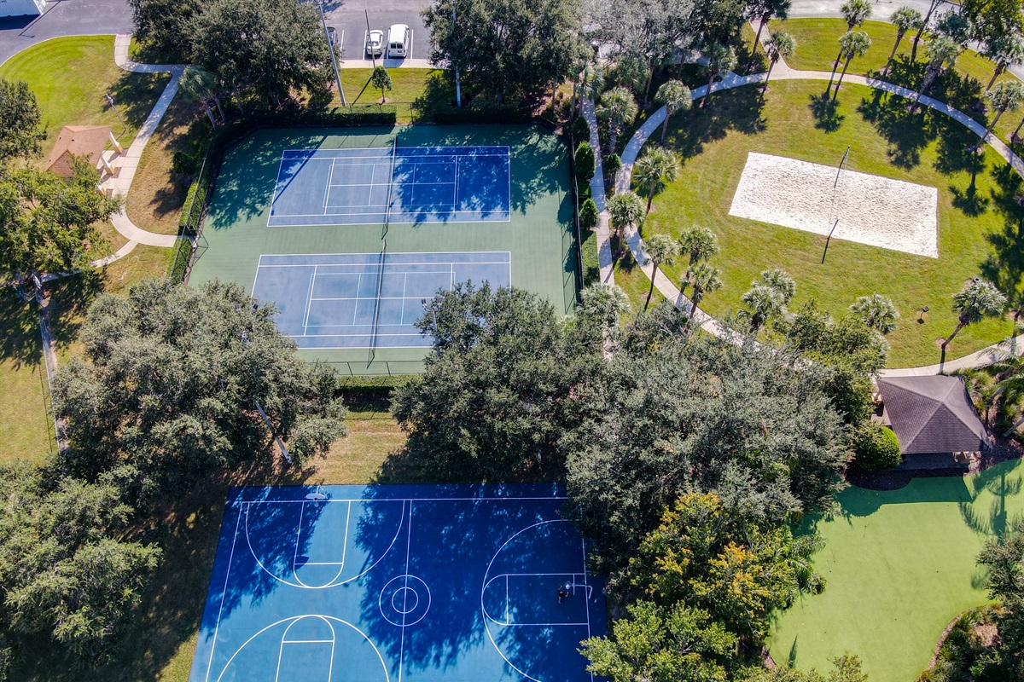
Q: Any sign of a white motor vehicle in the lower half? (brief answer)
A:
No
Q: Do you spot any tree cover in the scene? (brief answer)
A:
Yes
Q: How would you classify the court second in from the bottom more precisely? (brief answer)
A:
tennis court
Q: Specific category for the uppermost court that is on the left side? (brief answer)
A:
tennis court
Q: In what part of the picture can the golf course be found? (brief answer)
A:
bottom right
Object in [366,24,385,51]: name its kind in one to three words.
car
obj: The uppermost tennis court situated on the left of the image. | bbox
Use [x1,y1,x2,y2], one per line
[268,145,510,225]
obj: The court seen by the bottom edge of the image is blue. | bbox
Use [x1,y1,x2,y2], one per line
[189,481,608,682]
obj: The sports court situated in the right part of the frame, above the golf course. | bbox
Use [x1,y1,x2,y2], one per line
[728,150,940,259]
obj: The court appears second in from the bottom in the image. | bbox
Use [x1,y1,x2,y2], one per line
[241,251,512,350]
